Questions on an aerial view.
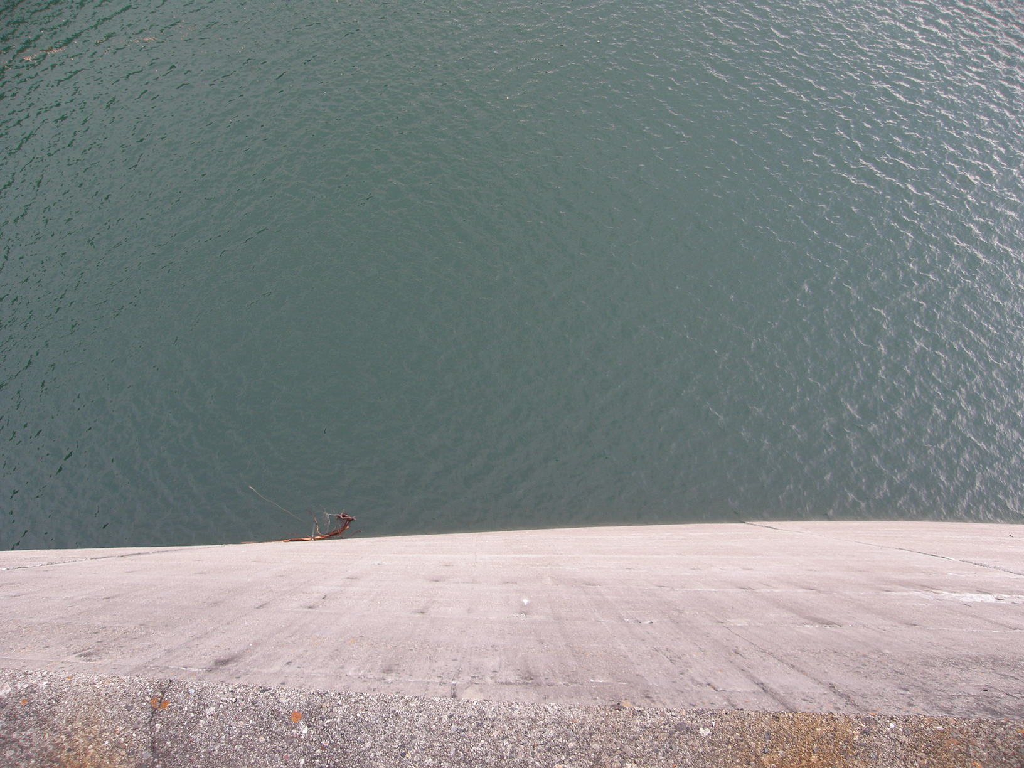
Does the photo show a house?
No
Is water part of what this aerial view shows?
Yes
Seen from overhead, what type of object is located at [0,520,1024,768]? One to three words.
dam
